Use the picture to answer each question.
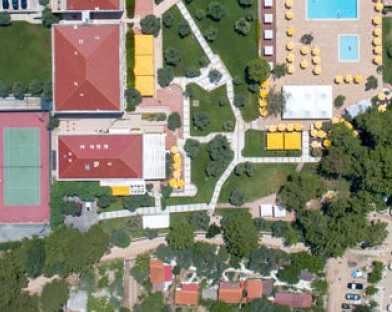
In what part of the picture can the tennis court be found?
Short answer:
left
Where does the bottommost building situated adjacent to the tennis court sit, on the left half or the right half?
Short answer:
left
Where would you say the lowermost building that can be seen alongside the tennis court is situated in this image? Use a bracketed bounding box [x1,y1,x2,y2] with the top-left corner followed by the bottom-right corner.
[57,127,145,186]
